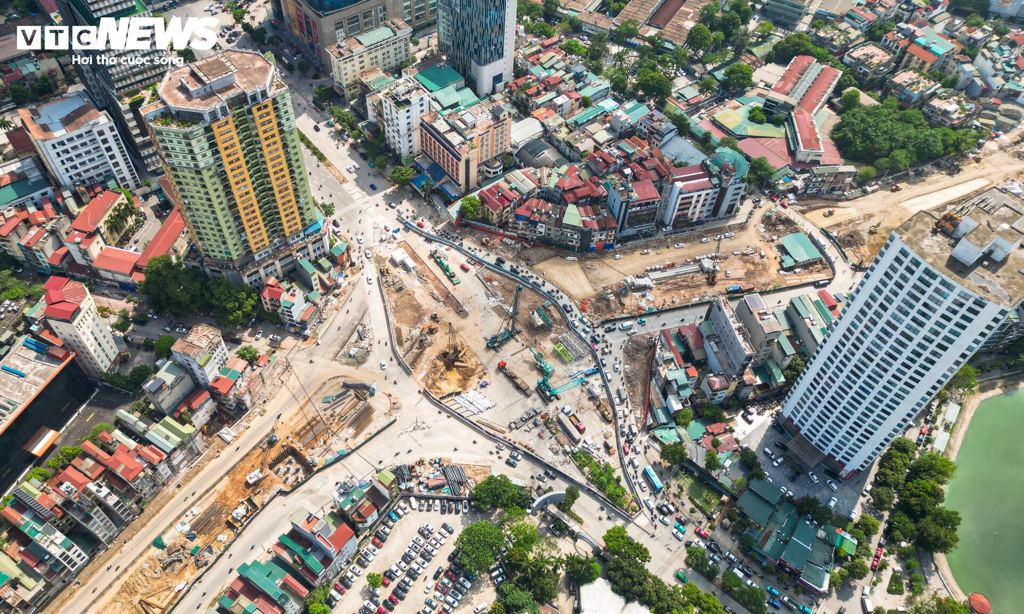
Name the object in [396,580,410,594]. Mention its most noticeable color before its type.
gray car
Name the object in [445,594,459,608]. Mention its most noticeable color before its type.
white car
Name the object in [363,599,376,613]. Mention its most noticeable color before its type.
white vehicle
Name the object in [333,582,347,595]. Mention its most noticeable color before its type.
red vehicle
